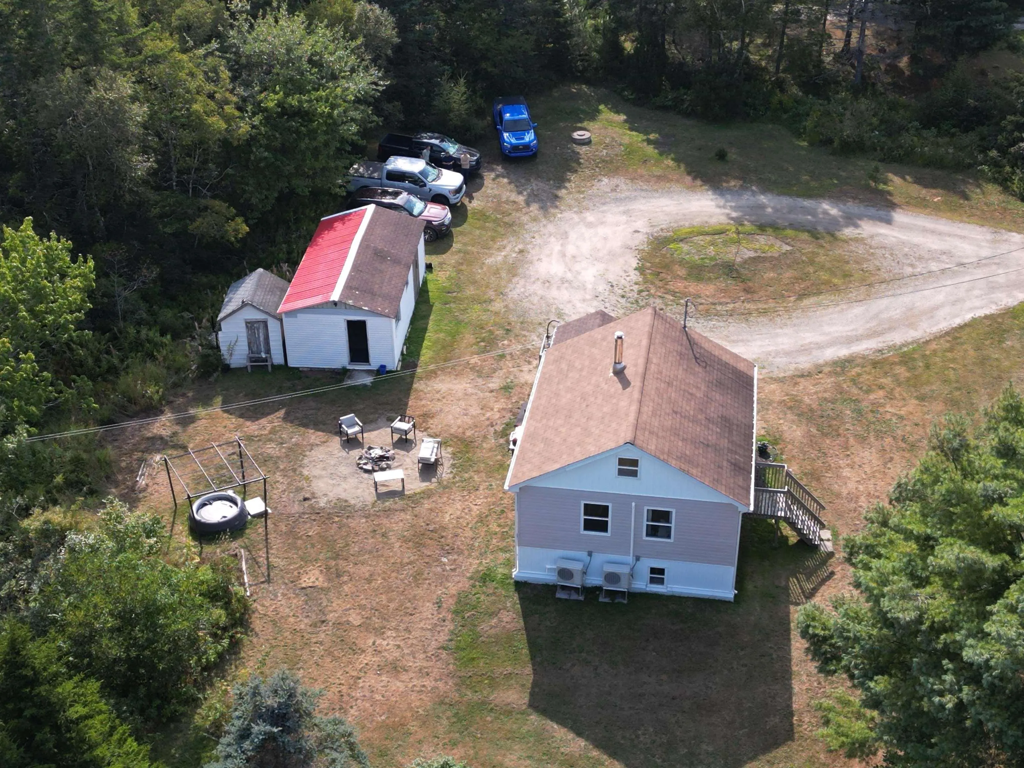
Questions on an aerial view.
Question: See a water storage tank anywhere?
No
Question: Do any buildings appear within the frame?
Yes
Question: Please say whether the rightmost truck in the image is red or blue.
blue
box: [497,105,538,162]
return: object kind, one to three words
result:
truck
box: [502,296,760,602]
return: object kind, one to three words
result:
house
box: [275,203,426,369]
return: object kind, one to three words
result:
building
